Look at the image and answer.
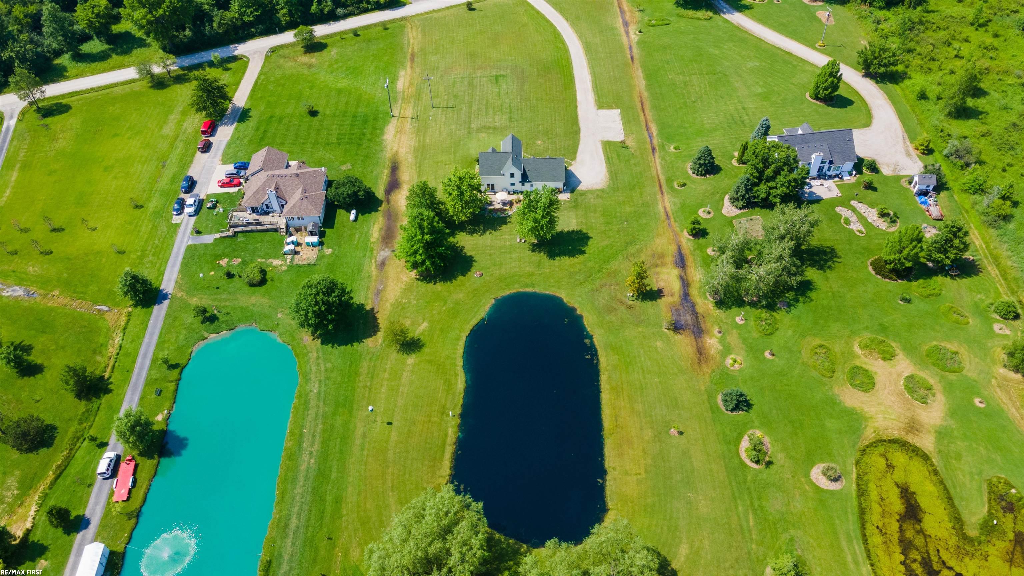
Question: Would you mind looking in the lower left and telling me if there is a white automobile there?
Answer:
Yes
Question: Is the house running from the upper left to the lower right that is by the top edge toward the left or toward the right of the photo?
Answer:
right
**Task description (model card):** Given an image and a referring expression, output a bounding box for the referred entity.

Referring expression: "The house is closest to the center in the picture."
[479,133,566,194]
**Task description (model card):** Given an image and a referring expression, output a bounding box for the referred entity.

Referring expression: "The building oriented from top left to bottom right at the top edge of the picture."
[709,0,923,175]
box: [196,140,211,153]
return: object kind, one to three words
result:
vehicle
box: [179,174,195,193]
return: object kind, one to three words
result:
car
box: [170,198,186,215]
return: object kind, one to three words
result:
car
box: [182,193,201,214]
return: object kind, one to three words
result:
vehicle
